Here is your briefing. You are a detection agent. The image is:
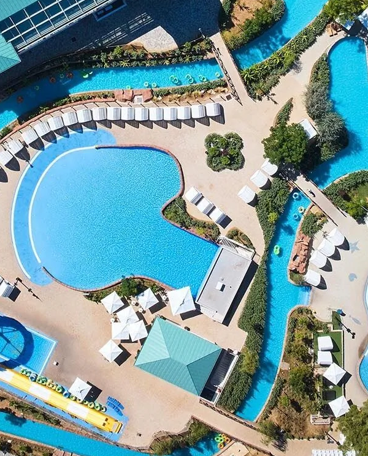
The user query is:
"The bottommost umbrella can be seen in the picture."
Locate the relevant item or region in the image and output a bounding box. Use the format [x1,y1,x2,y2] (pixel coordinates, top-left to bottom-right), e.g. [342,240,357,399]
[327,395,348,417]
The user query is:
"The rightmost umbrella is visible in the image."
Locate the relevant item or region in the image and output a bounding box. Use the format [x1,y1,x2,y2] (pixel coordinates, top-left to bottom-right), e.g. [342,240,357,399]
[353,7,368,31]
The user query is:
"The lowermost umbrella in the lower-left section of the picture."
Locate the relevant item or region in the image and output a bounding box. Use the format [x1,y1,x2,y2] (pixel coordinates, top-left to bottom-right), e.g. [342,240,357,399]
[69,376,92,399]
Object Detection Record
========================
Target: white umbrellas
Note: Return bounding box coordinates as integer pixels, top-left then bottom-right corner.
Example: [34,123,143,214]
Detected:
[99,338,123,363]
[322,361,345,384]
[100,291,124,315]
[69,376,92,399]
[128,320,147,340]
[168,287,194,314]
[327,395,348,417]
[112,322,129,340]
[137,286,160,310]
[116,301,140,326]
